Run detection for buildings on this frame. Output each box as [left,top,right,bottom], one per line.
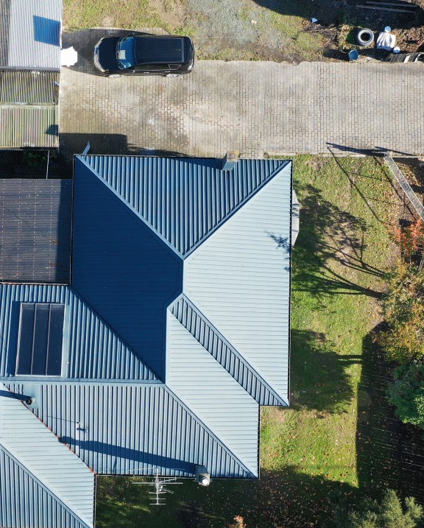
[0,0,62,155]
[0,145,297,528]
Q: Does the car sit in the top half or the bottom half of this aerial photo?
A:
top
